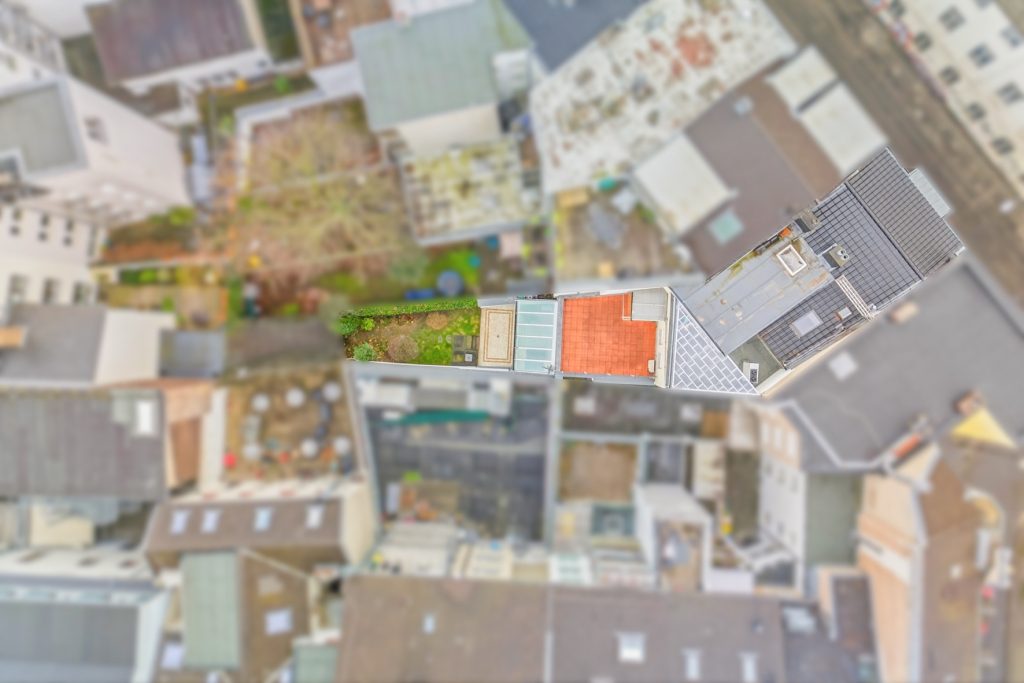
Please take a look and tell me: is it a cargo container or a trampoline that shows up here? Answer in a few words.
trampoline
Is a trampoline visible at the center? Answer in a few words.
Yes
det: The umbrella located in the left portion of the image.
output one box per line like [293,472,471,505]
[225,451,245,466]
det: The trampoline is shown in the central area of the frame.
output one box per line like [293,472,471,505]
[436,271,462,297]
